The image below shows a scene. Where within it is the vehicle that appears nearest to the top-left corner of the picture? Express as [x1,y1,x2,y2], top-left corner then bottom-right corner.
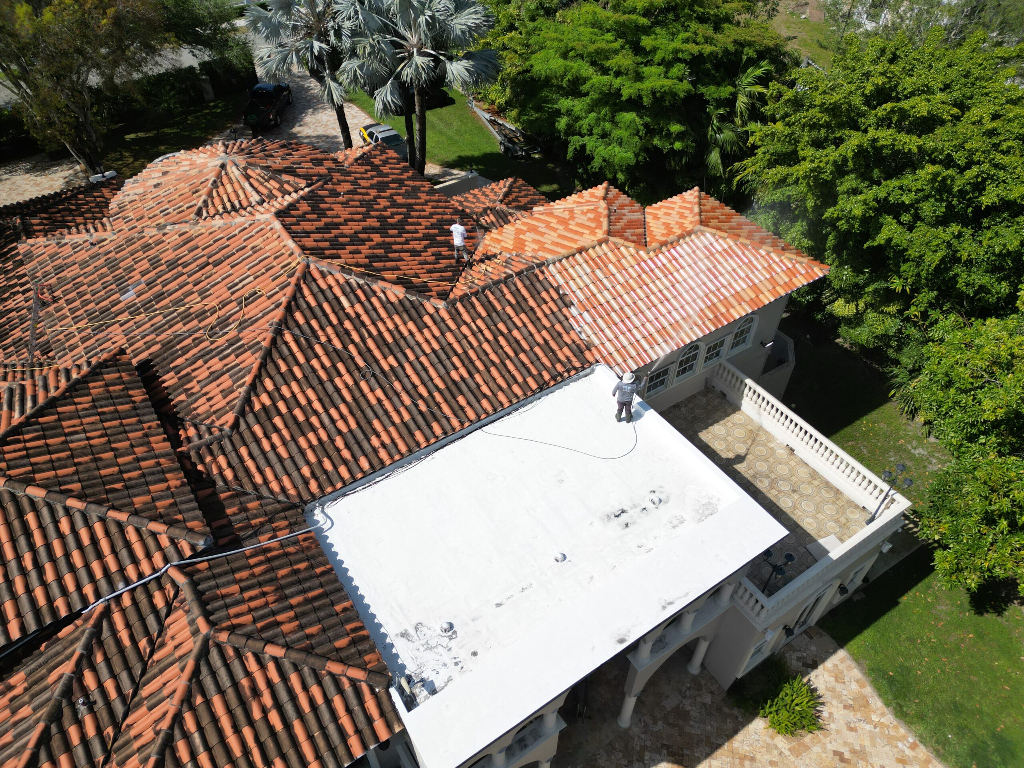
[246,83,298,127]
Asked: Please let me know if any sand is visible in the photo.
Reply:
No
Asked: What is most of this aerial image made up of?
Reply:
buildings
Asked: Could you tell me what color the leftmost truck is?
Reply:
black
